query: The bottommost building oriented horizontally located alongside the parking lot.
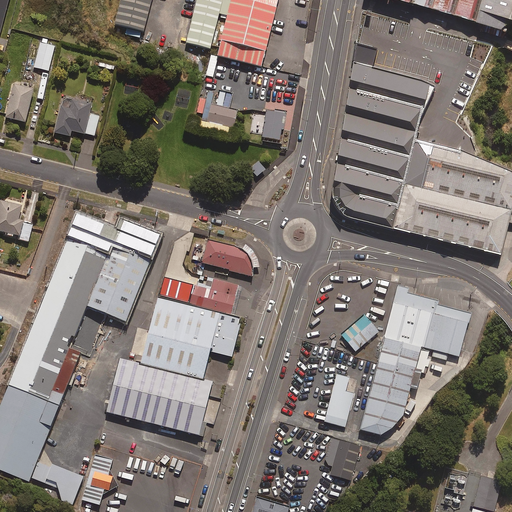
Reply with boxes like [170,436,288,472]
[394,184,510,255]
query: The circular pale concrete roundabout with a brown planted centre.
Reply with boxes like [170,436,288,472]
[283,218,316,252]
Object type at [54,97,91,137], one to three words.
house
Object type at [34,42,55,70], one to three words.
shed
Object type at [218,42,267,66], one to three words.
building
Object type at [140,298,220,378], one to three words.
building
